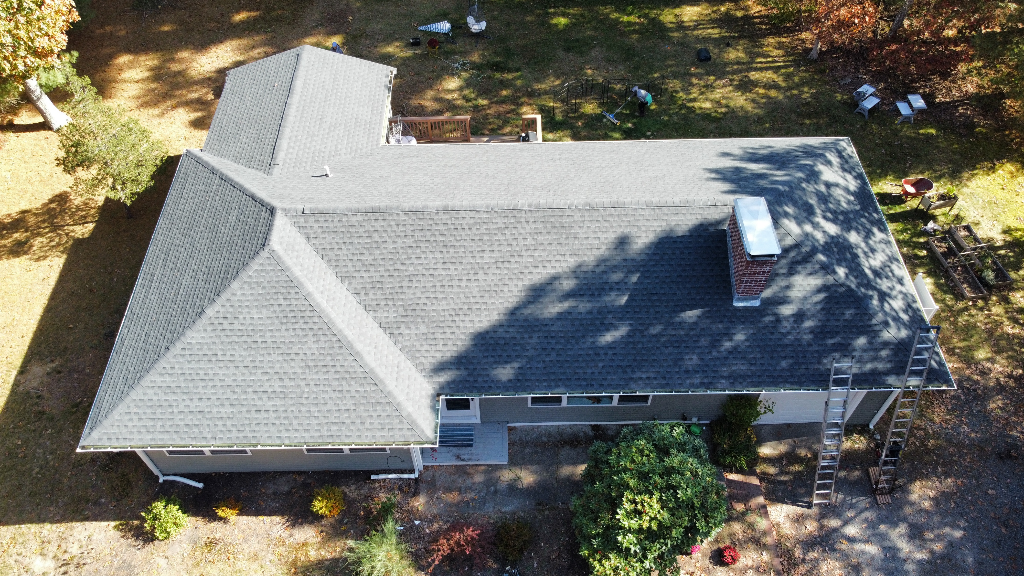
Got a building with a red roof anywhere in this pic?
No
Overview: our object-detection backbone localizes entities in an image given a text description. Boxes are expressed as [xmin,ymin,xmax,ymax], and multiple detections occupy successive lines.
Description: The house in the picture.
[79,44,953,488]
